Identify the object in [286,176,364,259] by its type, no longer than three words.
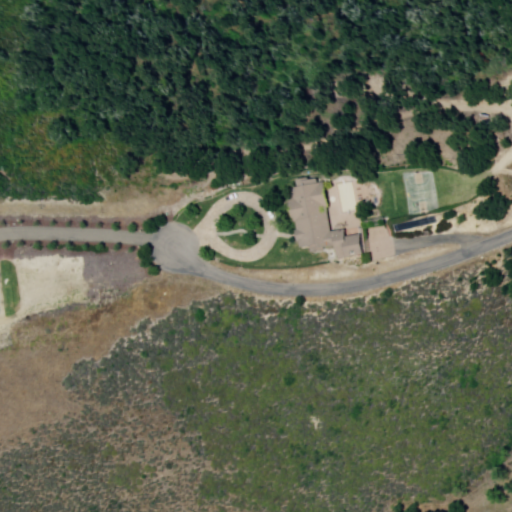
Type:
house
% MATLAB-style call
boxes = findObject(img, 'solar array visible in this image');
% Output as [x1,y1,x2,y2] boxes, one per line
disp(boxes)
[394,216,437,232]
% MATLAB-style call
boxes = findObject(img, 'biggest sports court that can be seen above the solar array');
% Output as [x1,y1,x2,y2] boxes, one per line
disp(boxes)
[404,172,438,214]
